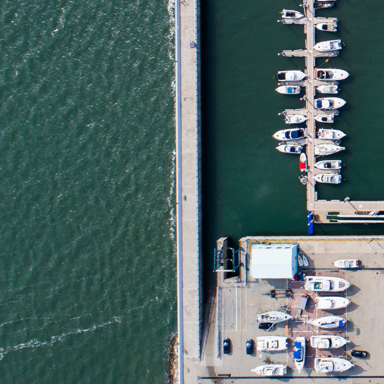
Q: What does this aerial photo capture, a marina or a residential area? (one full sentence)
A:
The area seen from above is a marina.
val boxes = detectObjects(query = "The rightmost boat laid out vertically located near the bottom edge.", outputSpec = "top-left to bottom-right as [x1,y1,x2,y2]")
[293,335,307,375]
